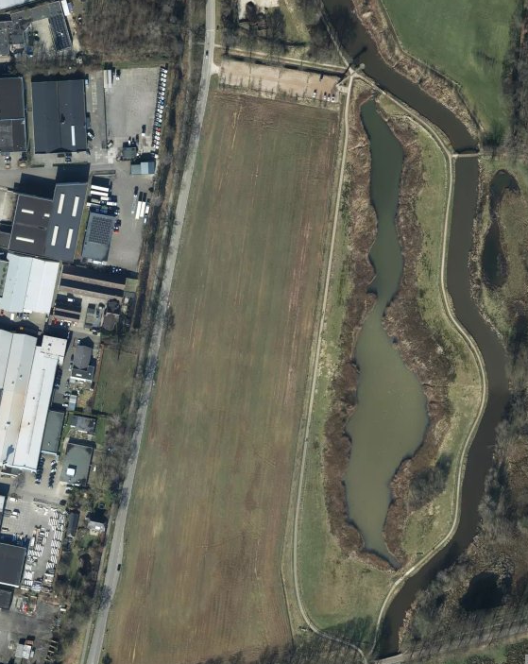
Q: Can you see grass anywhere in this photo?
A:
Yes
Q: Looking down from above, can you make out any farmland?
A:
Yes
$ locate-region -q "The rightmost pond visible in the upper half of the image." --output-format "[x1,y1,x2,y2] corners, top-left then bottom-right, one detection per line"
[482,170,517,288]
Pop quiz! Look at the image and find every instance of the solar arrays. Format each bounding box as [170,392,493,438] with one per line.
[89,217,113,243]
[51,15,71,47]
